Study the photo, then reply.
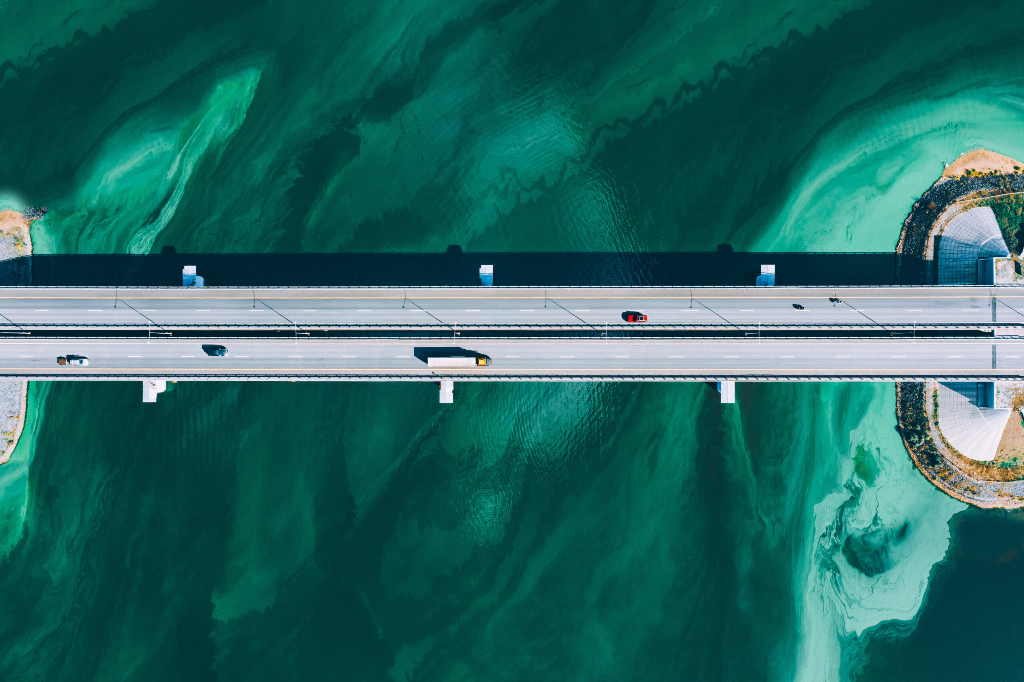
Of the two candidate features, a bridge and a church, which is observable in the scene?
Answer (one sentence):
Looking from above, you can make out a bridge.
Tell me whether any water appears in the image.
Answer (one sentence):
Yes, water can be seen from above here.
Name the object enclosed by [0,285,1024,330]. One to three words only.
bridge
